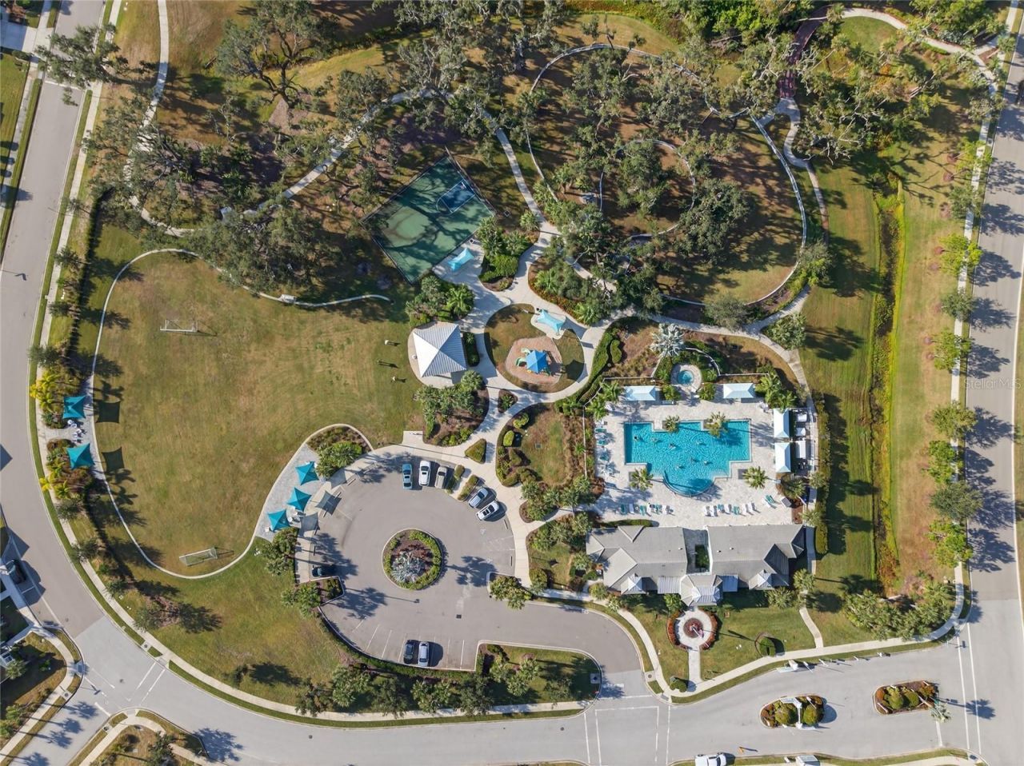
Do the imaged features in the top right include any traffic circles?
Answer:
No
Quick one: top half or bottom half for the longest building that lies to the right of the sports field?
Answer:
bottom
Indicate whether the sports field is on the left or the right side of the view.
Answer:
left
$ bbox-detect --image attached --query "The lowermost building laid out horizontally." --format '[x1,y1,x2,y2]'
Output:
[586,524,804,606]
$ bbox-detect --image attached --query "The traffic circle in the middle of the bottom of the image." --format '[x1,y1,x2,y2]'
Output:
[381,529,443,591]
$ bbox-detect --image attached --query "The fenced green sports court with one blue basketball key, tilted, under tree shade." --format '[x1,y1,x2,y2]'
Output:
[363,155,497,284]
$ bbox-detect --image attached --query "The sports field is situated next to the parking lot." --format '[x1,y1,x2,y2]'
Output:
[90,248,420,579]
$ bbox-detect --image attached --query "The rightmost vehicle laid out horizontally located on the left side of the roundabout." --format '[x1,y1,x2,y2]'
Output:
[311,564,337,577]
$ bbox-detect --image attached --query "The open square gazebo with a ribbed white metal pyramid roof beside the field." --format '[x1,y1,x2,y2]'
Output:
[413,324,466,377]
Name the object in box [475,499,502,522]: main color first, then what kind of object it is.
white car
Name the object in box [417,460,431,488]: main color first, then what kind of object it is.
white car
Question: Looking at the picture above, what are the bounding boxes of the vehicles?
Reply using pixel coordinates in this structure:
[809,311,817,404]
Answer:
[403,637,416,665]
[417,460,431,488]
[467,486,493,510]
[311,564,337,577]
[417,639,430,668]
[435,463,448,490]
[475,499,502,522]
[694,754,726,766]
[401,462,413,489]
